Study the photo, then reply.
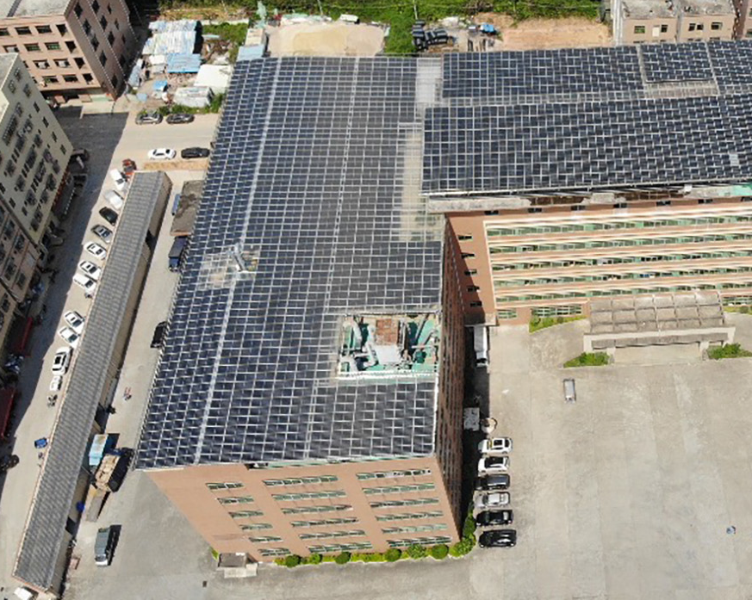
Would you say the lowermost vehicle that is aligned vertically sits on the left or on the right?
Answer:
left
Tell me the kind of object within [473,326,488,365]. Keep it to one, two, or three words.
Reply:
vehicle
